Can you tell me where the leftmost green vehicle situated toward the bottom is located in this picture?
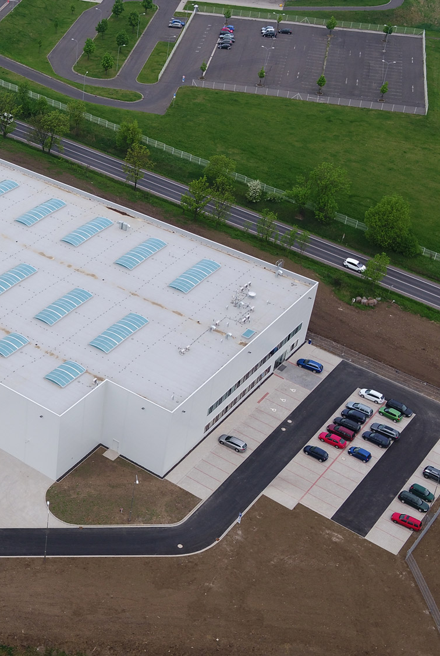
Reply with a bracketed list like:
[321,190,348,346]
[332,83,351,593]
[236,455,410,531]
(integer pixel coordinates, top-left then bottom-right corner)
[379,409,402,424]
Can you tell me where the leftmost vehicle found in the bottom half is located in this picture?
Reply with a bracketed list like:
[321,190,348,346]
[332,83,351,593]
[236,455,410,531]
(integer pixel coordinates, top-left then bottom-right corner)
[219,436,247,453]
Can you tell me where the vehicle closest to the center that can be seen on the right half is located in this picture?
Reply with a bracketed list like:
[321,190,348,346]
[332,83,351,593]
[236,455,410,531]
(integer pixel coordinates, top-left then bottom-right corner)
[298,360,323,374]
